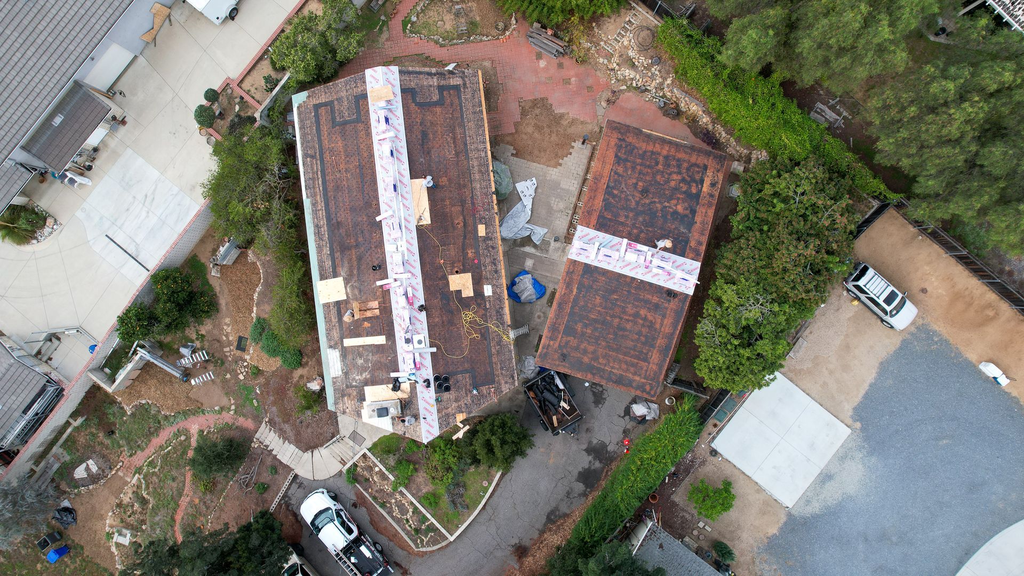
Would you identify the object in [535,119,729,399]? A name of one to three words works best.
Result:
building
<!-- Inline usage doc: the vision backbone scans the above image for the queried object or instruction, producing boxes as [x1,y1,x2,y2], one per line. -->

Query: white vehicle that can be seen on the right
[843,265,919,332]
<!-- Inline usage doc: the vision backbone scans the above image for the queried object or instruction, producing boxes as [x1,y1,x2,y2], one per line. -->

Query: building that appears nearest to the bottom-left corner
[0,339,68,439]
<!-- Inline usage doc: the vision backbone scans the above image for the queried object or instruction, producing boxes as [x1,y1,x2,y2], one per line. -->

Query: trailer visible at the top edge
[185,0,247,26]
